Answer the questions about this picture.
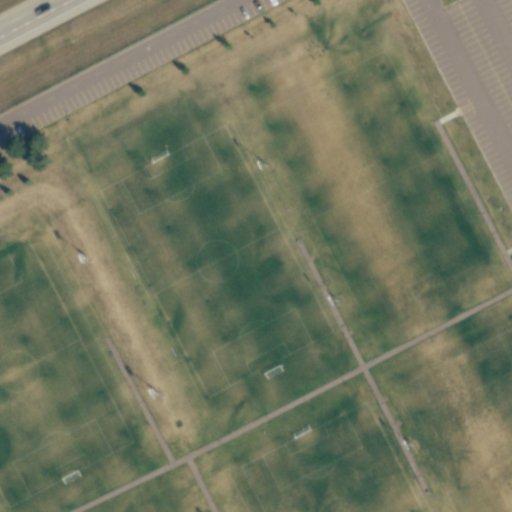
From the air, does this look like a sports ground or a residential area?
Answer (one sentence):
The picture captures a sports ground.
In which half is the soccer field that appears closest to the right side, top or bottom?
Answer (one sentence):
You can find the soccer field that appears closest to the right side in the bottom half.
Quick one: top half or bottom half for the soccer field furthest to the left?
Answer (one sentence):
The soccer field furthest to the left sits in the bottom half of the picture.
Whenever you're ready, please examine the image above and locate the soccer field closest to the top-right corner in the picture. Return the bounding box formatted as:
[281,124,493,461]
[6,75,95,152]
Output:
[259,48,492,318]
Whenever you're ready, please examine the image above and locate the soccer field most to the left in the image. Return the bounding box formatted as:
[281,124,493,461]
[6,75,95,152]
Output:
[0,236,134,506]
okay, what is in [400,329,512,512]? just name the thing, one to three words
soccer field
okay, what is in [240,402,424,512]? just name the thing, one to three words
soccer field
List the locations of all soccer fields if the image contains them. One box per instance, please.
[0,236,134,506]
[240,402,424,512]
[259,48,492,318]
[101,127,334,397]
[400,329,512,512]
